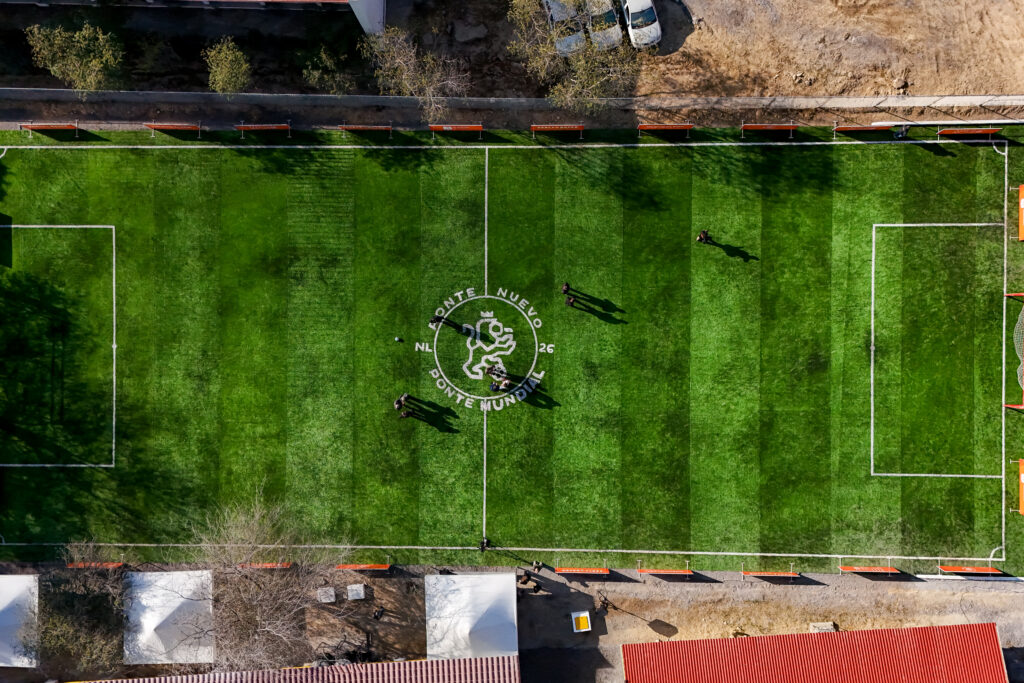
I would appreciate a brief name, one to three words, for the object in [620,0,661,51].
car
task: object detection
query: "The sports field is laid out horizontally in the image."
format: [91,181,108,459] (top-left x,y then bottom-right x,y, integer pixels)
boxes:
[0,124,1024,577]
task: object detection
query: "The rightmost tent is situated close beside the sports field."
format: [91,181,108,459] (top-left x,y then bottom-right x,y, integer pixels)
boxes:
[425,559,520,661]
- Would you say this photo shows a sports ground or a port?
sports ground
